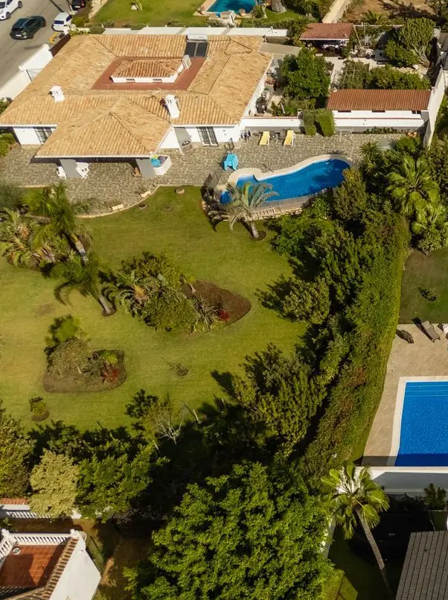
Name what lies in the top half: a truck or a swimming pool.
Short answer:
swimming pool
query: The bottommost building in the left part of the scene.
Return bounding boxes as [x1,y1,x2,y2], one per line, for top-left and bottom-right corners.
[0,530,98,600]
